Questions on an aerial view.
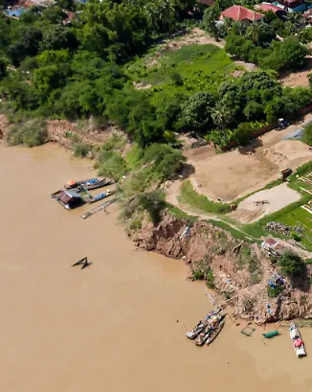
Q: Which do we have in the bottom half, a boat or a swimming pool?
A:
boat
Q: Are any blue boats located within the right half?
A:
No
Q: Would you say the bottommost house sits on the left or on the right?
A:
left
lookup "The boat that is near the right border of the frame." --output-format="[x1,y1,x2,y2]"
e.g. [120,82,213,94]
[290,321,303,357]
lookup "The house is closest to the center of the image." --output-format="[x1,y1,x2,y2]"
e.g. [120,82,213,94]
[48,188,89,209]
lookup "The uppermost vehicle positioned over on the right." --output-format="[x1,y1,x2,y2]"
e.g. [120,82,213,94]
[277,165,295,179]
